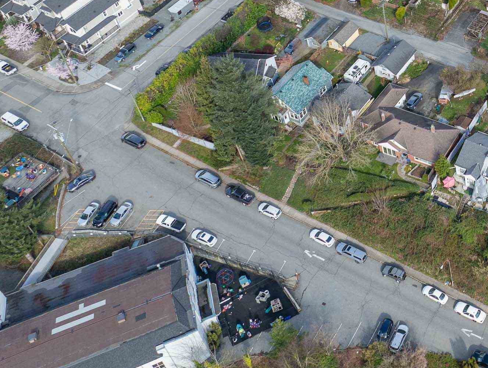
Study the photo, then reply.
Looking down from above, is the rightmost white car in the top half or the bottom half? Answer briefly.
bottom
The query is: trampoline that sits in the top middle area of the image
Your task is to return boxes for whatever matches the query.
[253,16,275,36]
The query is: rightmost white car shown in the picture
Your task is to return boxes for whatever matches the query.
[455,304,486,325]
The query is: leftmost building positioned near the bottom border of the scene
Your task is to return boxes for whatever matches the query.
[0,240,225,368]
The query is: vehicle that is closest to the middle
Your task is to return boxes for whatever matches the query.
[224,188,254,206]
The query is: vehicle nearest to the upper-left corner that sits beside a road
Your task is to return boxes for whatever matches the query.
[0,62,17,74]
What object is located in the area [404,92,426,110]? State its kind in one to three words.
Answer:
car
